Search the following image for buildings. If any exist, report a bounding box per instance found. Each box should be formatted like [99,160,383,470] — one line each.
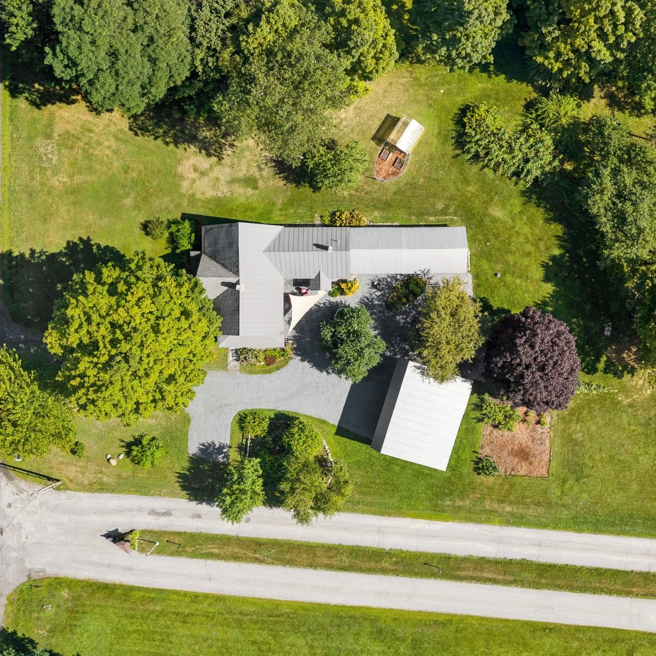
[190,223,468,347]
[387,114,425,156]
[370,359,473,472]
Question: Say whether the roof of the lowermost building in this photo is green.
No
